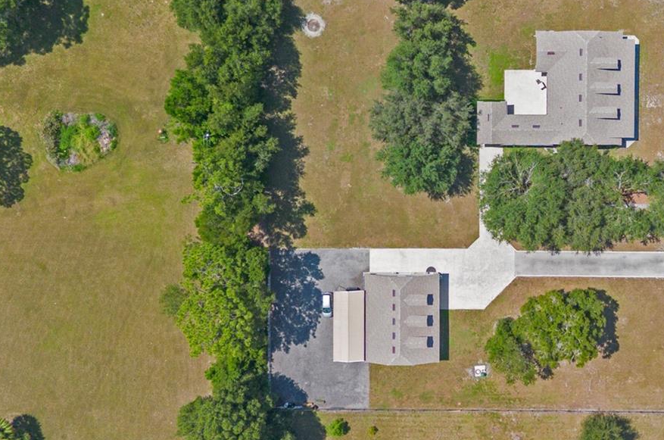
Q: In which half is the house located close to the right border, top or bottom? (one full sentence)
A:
You can find the house located close to the right border in the top half.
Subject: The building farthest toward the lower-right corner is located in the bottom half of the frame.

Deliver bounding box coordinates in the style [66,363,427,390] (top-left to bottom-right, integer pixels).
[366,272,440,363]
